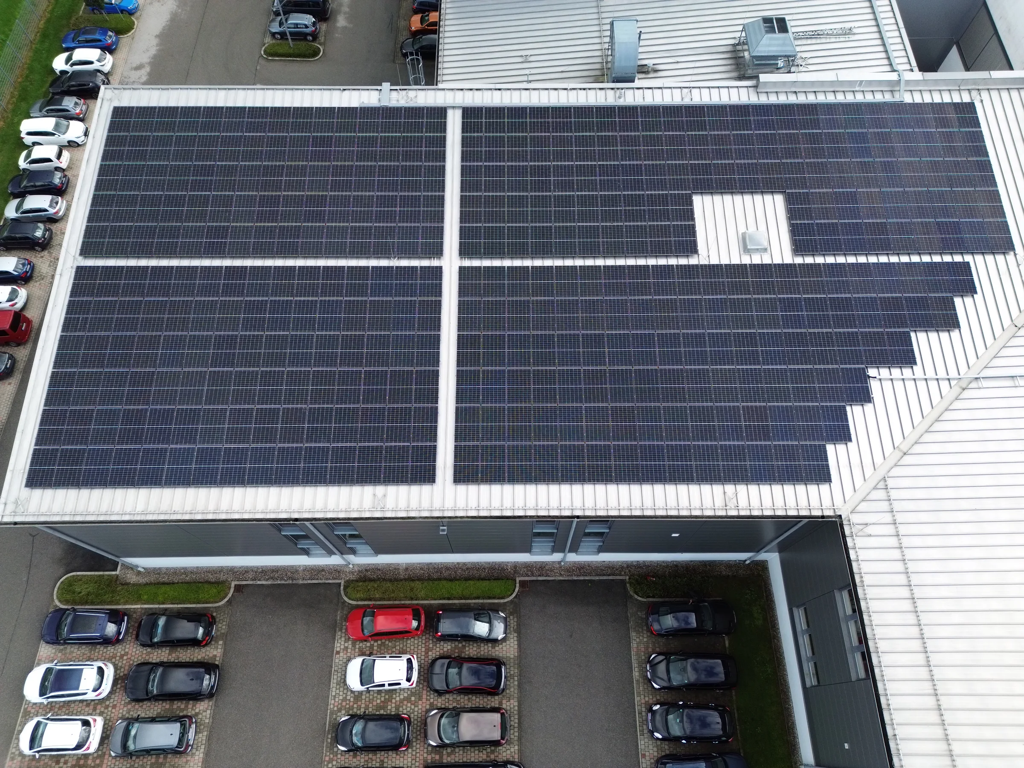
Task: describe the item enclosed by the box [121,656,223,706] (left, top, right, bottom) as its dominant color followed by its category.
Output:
black car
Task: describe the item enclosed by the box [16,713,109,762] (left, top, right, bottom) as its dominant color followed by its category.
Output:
white car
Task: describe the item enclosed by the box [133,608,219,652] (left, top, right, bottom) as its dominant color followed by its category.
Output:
black car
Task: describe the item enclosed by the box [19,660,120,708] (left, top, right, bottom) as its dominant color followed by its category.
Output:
white car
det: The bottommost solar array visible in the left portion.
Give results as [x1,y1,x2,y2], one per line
[26,264,443,487]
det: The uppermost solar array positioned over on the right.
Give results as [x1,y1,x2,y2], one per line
[457,104,1015,255]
